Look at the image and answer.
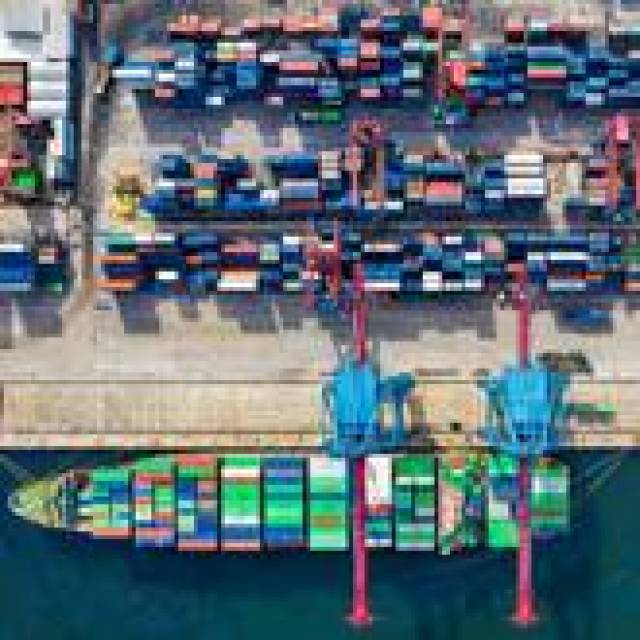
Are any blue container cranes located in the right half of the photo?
Yes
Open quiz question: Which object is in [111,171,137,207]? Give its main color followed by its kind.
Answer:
yellow work vehicle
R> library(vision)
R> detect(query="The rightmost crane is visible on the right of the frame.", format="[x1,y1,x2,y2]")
[581,108,636,218]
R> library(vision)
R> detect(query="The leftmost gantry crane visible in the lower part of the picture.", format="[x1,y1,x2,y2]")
[312,262,418,621]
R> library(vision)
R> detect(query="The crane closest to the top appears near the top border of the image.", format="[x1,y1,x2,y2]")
[424,8,466,118]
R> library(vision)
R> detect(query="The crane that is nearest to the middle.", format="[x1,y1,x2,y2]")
[308,221,341,304]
